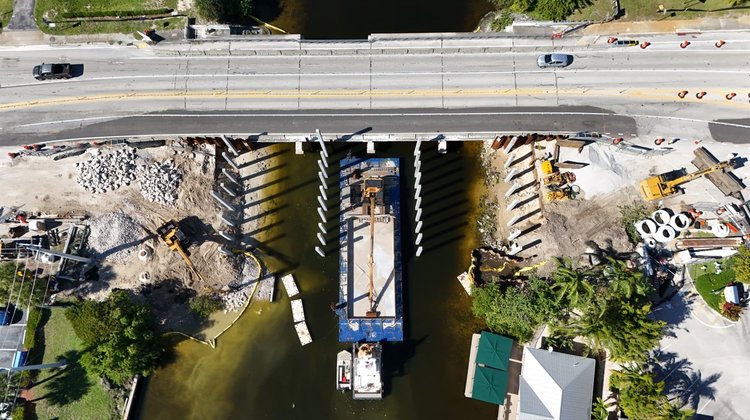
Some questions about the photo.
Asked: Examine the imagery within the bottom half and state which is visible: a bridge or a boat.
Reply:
boat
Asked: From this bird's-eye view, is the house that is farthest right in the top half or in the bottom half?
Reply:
bottom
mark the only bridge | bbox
[152,33,604,155]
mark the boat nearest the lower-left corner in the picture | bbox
[336,351,352,395]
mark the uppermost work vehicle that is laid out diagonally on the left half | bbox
[153,217,202,281]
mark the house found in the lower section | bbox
[515,347,596,420]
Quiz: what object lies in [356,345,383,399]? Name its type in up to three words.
boat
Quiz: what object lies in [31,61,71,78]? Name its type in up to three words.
vehicle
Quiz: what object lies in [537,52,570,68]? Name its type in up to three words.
car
